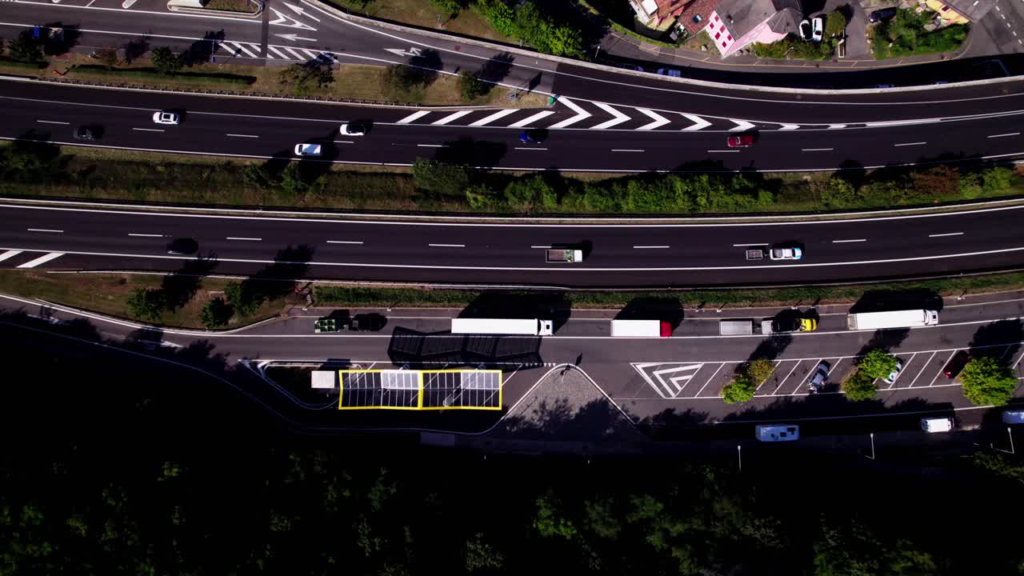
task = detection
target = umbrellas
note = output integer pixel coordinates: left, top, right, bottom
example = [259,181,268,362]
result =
[935,11,949,24]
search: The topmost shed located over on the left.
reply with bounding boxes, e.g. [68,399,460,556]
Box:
[312,370,338,388]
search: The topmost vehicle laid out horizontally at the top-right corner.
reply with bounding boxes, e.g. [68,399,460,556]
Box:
[868,7,896,23]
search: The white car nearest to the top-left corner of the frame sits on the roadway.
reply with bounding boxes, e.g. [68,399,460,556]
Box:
[153,111,180,125]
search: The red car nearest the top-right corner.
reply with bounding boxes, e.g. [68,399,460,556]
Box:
[727,134,754,147]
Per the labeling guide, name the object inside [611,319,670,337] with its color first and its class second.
white vehicle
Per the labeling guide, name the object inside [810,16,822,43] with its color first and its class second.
white vehicle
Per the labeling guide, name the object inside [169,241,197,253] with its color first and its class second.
black vehicle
